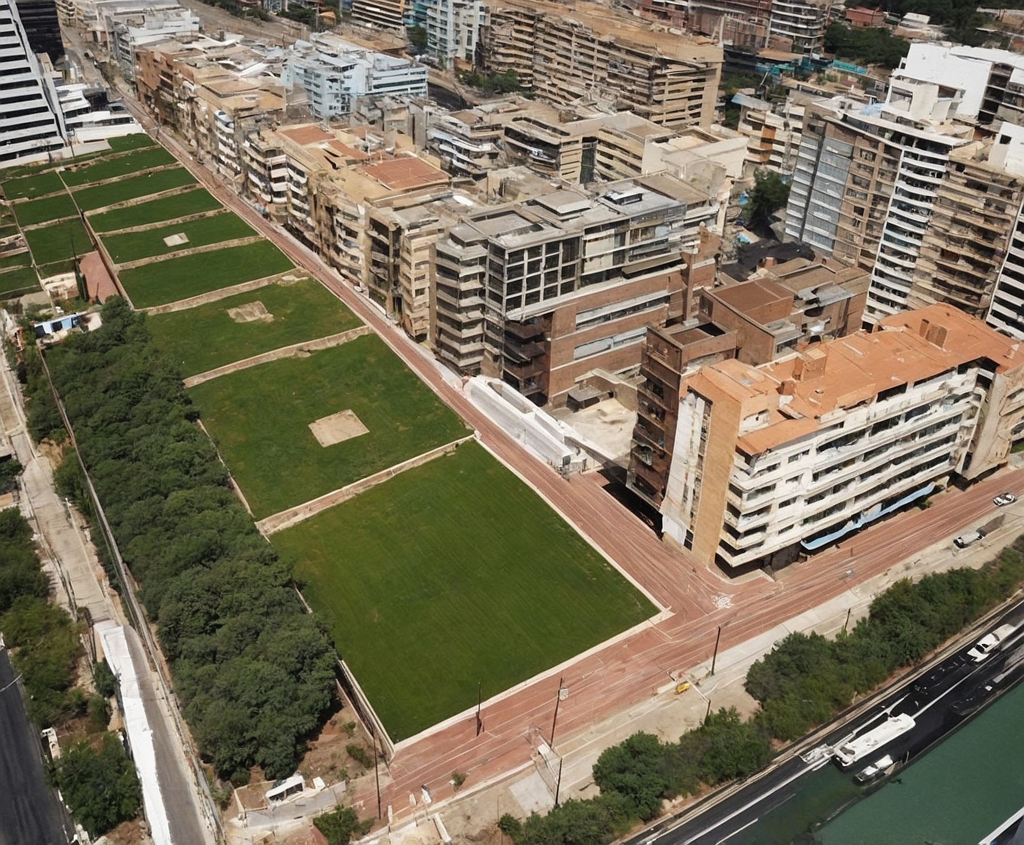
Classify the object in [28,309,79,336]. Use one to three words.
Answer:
shed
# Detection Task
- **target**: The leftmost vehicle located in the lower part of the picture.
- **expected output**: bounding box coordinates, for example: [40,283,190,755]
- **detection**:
[676,683,691,699]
